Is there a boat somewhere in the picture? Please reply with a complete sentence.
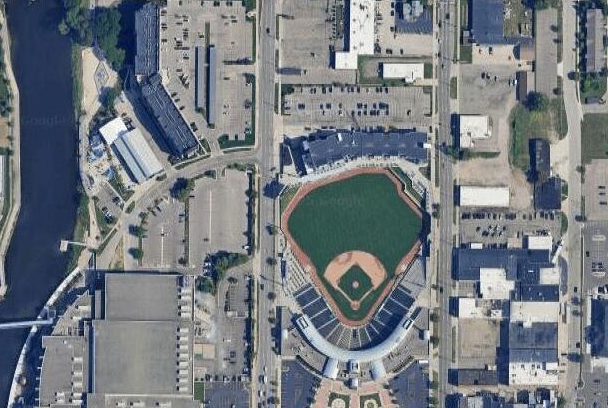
No, no boat can be seen from above.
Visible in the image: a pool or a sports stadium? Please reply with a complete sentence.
Looking from above, you can make out a sports stadium.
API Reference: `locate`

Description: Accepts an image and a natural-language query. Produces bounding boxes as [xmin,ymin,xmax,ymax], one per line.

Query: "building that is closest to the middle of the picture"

[304,131,431,174]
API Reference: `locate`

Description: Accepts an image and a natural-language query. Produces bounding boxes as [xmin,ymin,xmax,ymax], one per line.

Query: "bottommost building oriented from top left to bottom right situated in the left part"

[100,118,164,184]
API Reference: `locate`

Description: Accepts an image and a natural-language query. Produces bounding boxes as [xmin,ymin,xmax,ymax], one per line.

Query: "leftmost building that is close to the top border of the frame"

[136,2,199,154]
